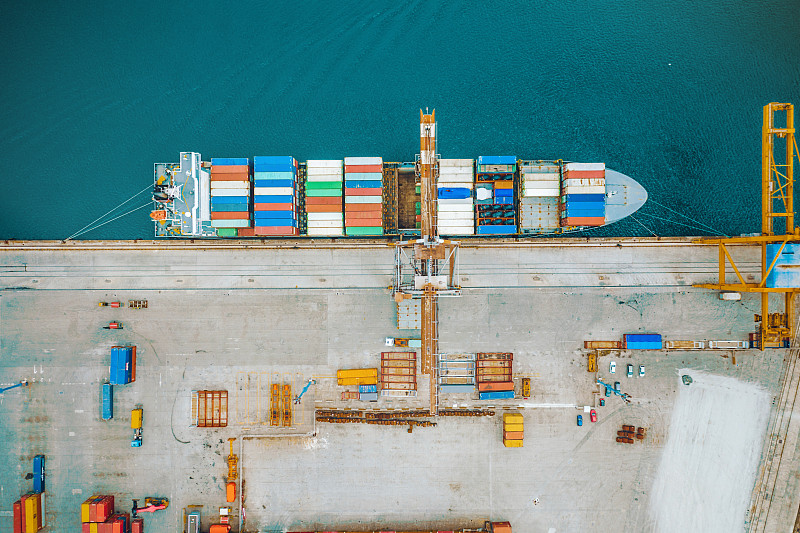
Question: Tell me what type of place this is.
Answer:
port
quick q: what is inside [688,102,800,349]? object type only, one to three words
container crane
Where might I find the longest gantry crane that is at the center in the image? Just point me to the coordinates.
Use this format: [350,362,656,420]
[390,107,461,413]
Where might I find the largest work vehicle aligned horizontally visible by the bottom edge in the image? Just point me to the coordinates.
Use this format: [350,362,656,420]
[125,497,171,517]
